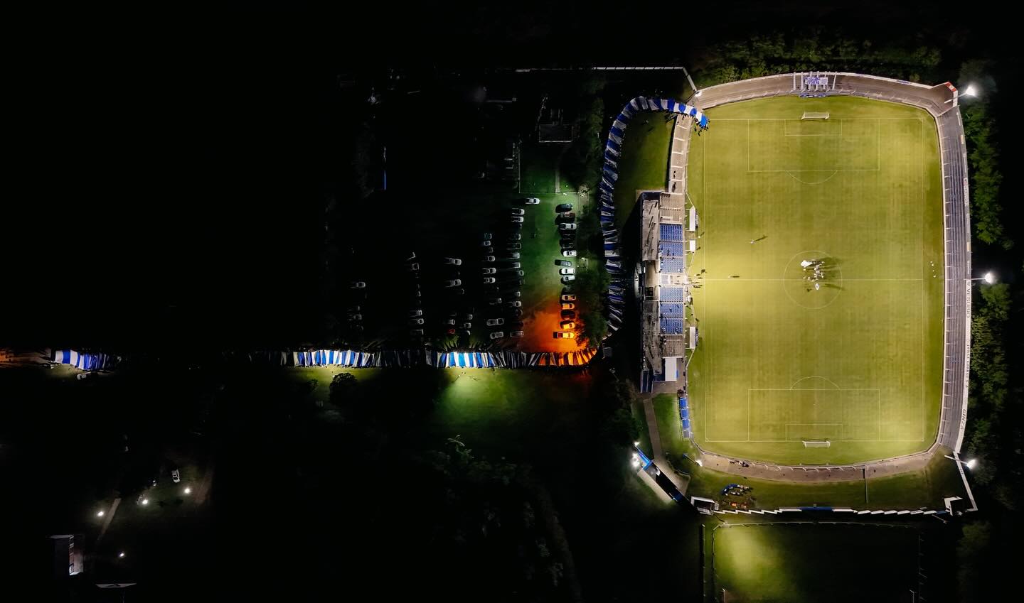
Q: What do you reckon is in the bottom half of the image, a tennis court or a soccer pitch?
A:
soccer pitch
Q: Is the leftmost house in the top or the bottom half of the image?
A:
bottom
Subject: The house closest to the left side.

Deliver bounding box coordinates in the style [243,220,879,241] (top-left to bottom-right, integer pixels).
[54,532,77,577]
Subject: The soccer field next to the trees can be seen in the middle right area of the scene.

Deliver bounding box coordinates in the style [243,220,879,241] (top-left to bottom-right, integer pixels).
[686,96,942,466]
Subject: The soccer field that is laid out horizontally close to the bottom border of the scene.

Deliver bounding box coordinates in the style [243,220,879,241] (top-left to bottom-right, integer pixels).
[714,523,919,603]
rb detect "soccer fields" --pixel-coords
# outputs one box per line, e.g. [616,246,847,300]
[714,523,919,603]
[686,96,942,466]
